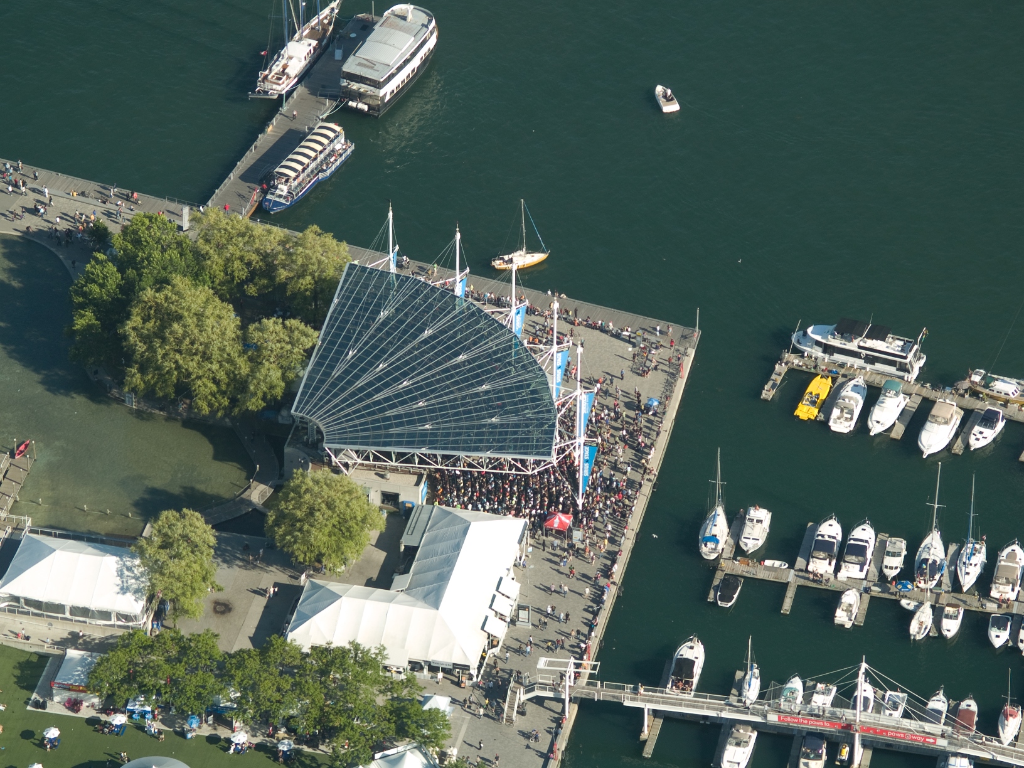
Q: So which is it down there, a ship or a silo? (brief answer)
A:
ship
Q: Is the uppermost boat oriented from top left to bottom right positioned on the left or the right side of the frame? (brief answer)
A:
right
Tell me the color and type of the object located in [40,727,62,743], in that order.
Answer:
white umbrella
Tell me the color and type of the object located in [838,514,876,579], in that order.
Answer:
white boat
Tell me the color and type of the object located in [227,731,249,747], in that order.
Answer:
white umbrella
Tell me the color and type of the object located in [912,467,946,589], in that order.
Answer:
white boat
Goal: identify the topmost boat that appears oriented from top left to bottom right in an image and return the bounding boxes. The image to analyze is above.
[656,81,679,116]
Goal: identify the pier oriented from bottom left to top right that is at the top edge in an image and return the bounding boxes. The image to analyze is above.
[207,5,389,217]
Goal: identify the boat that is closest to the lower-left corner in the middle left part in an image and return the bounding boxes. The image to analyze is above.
[15,436,30,458]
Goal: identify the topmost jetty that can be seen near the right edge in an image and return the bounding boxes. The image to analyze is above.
[762,354,1024,466]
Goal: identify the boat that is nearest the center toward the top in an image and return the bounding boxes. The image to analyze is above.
[491,202,550,273]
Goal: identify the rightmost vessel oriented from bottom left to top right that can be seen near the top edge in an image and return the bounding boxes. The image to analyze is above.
[337,4,432,120]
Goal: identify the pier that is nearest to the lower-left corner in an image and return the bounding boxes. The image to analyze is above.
[0,435,37,516]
